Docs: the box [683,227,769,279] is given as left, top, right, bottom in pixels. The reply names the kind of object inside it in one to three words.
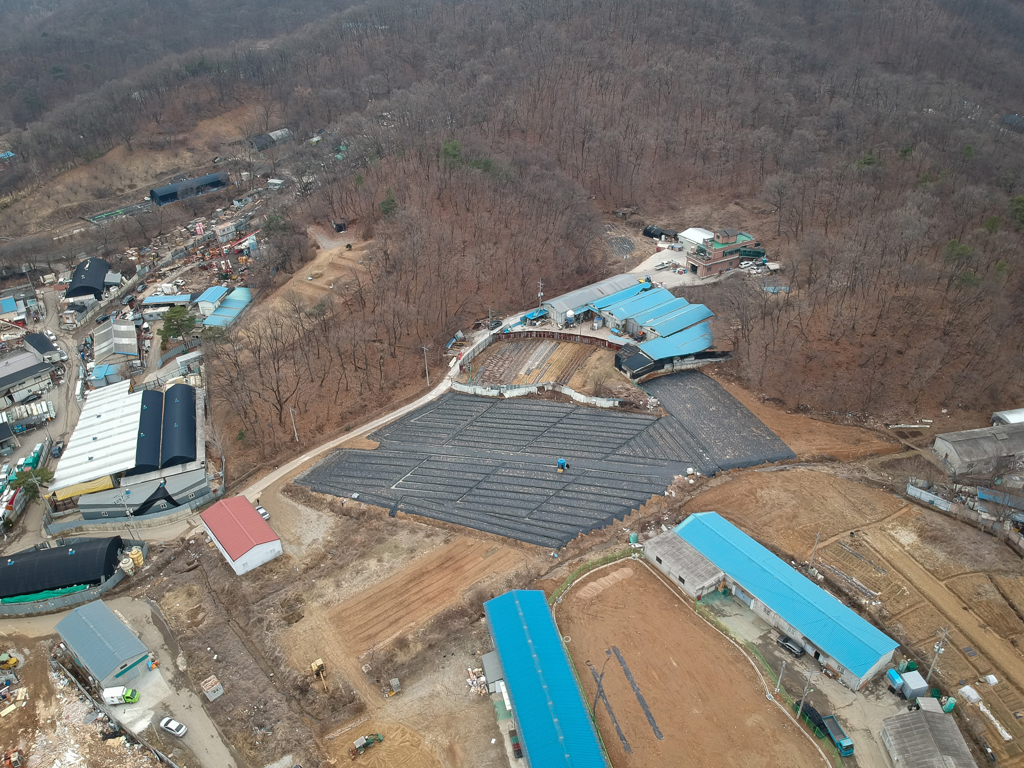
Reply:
building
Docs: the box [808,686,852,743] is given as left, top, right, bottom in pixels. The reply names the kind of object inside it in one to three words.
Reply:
truck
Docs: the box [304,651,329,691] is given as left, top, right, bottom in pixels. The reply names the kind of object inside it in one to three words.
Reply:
work vehicle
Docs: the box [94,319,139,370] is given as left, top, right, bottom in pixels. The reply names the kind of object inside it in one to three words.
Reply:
shed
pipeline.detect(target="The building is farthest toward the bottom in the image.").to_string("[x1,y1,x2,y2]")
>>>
[879,708,983,768]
